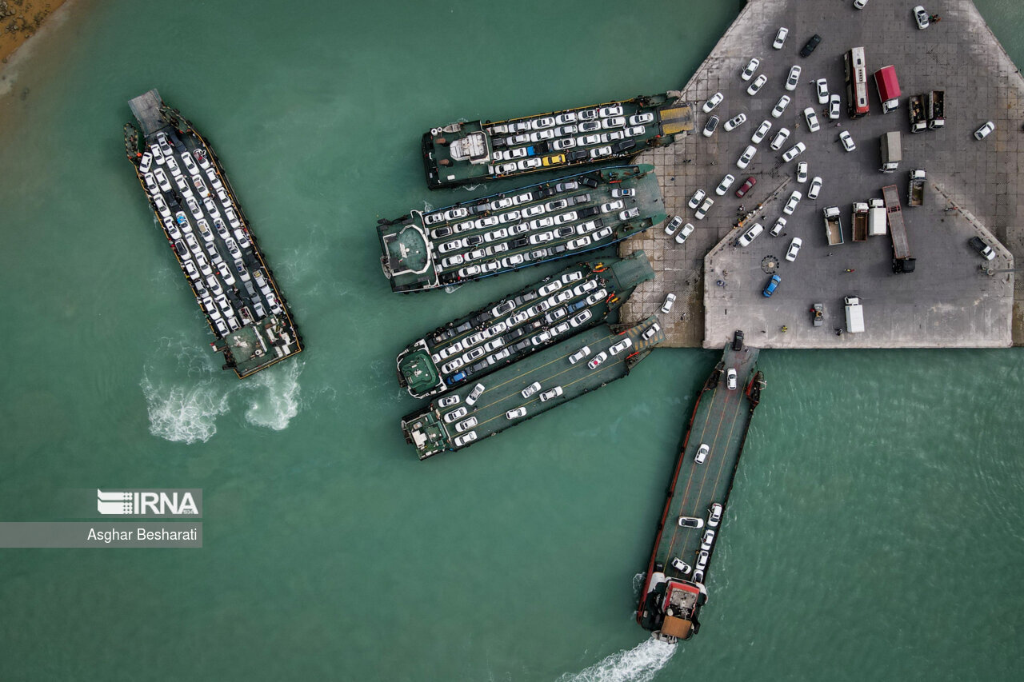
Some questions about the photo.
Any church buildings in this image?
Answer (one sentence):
No, I can't see a single church building in this photo.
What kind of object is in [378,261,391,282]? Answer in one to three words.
boat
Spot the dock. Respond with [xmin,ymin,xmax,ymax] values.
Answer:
[618,0,1024,348]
